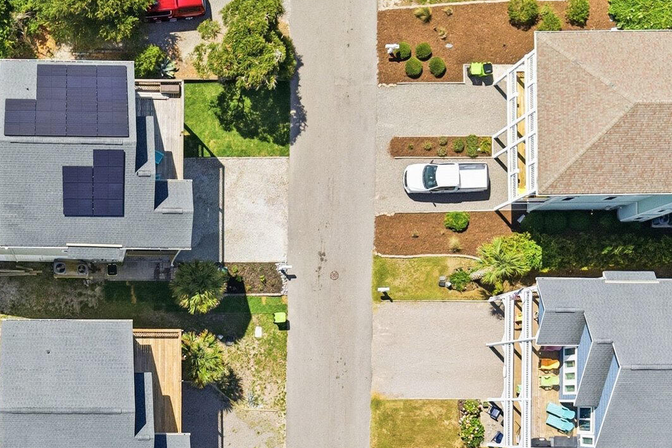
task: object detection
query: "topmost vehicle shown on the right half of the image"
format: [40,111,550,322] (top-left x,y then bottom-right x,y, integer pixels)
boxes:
[399,158,490,197]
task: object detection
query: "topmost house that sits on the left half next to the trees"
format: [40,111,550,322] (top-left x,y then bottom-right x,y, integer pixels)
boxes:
[0,58,193,263]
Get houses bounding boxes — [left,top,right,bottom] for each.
[491,30,672,225]
[487,270,672,448]
[0,319,191,448]
[0,58,193,263]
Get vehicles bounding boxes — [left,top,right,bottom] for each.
[124,0,209,24]
[399,158,490,197]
